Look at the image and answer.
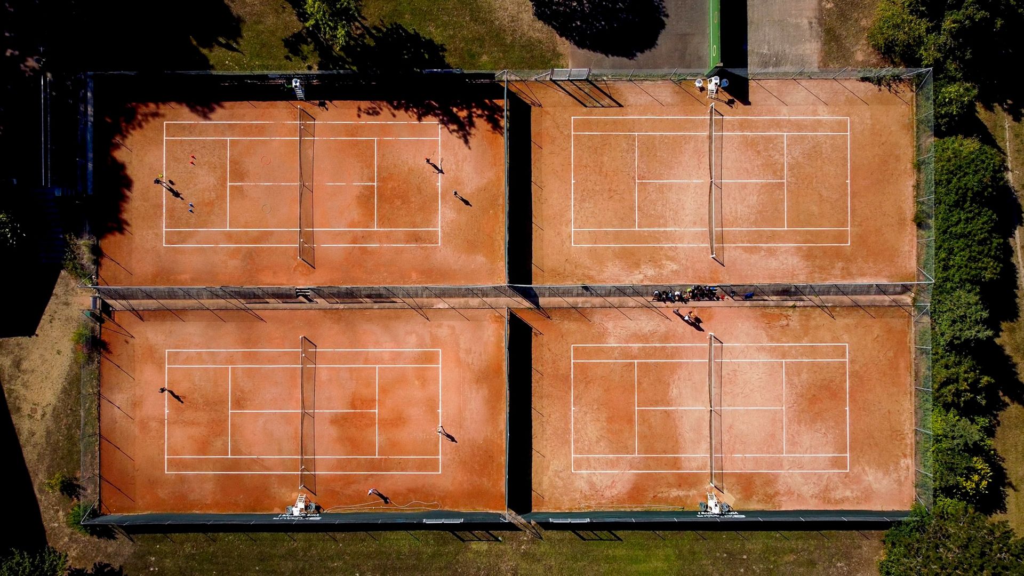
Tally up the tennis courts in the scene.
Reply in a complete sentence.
The count of tennis courts comes to 4.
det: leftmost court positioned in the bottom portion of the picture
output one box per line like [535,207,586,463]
[97,308,508,514]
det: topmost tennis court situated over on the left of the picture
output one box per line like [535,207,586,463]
[96,80,508,289]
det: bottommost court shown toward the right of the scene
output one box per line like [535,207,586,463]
[508,306,912,512]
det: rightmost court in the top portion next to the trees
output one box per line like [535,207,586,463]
[509,79,915,286]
